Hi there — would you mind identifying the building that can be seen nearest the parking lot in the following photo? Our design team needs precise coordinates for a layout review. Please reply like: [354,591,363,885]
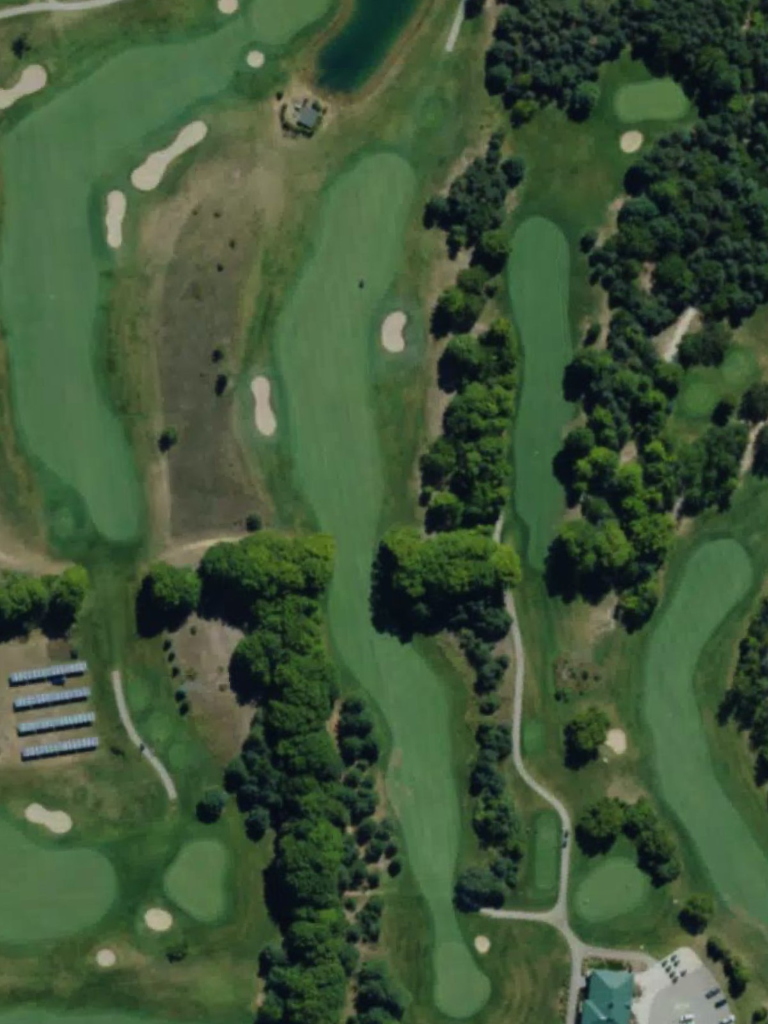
[583,971,635,1024]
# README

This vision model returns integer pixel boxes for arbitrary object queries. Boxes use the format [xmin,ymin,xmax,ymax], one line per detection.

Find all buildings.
[583,971,635,1024]
[299,108,316,126]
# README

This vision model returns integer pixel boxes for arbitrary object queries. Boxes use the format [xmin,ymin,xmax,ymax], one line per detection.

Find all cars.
[706,988,720,999]
[680,1014,695,1021]
[715,999,728,1009]
[722,1015,735,1024]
